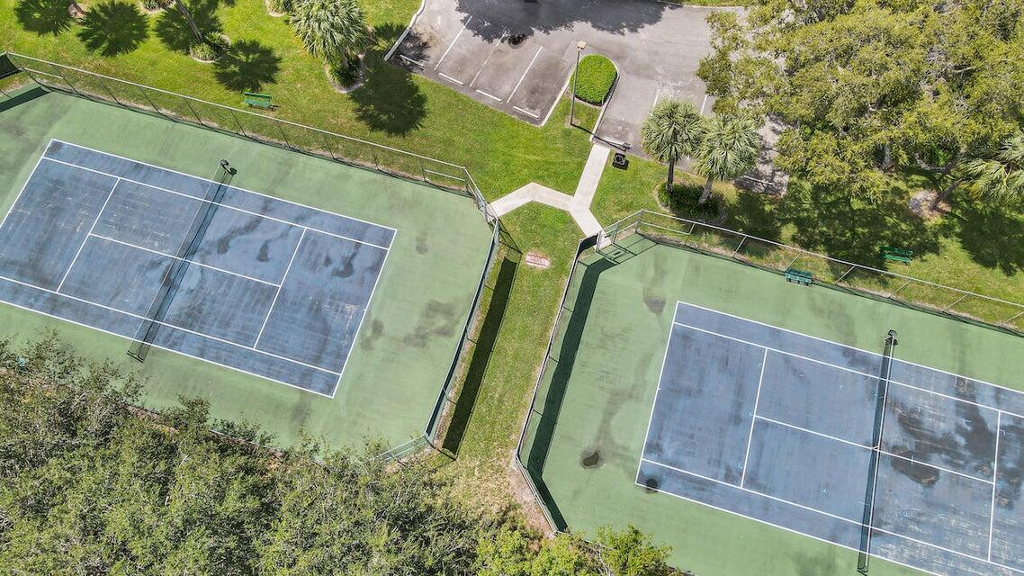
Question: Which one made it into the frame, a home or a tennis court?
tennis court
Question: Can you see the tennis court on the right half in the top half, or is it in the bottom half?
bottom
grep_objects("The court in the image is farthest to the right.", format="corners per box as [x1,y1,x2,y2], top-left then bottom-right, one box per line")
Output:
[518,234,1024,576]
